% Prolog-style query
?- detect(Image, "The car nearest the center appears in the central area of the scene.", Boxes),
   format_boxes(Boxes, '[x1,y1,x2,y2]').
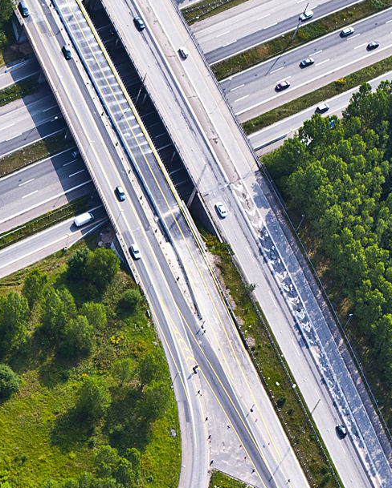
[215,203,227,219]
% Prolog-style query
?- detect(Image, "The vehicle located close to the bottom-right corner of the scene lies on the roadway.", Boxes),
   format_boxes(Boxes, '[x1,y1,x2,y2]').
[334,422,347,441]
